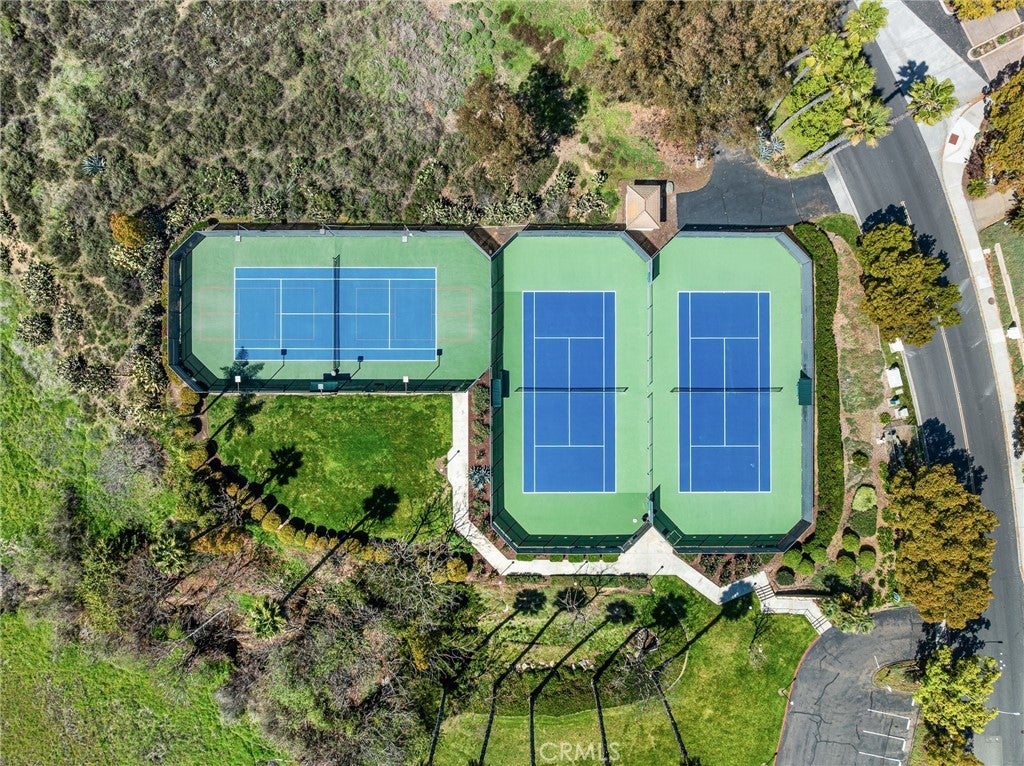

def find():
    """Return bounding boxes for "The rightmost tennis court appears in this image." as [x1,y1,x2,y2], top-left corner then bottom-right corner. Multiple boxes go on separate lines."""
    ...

[647,238,800,545]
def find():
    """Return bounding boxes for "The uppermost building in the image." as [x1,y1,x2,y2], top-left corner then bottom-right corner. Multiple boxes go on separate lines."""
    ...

[625,185,661,231]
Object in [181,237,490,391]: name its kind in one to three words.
tennis court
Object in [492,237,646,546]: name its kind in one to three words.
tennis court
